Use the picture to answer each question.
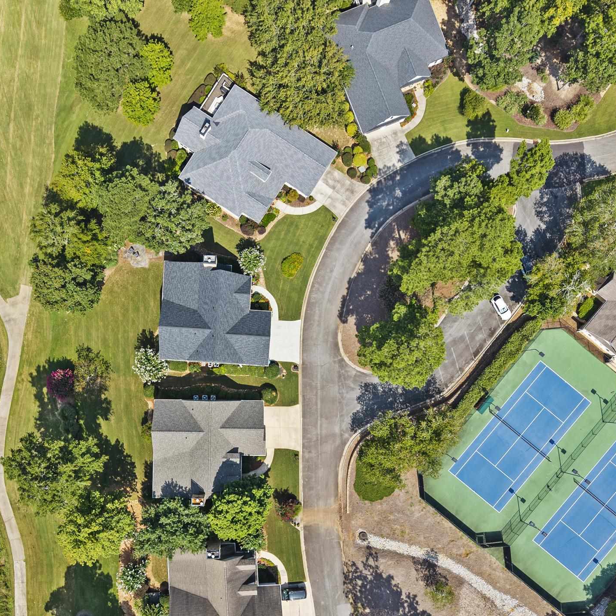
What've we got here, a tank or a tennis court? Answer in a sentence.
The image shows a tennis court.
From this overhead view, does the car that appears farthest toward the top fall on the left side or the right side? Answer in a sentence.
The car that appears farthest toward the top is on the right side of the image.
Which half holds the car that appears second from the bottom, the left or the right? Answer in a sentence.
You can find the car that appears second from the bottom on the right side of the picture.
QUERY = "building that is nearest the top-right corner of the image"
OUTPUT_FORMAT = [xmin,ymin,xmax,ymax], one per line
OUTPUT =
[331,0,451,137]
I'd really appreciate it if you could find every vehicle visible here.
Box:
[488,293,510,321]
[282,588,309,603]
[517,249,538,276]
